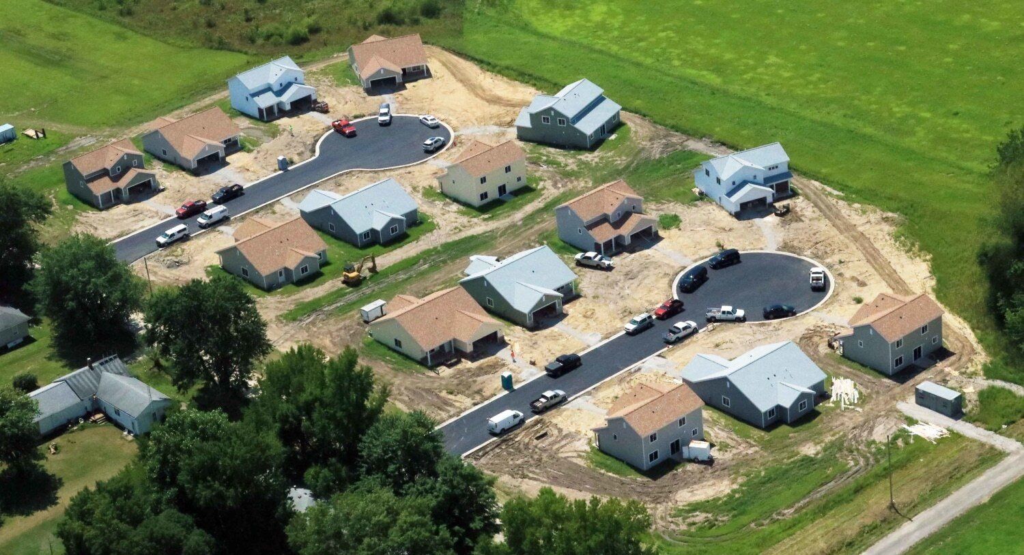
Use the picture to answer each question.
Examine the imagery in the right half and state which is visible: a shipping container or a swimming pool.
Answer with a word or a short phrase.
shipping container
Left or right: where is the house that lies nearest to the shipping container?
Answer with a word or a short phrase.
right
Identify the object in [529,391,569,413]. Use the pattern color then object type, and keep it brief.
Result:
gray truck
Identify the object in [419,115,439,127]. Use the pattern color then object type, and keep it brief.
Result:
white vehicle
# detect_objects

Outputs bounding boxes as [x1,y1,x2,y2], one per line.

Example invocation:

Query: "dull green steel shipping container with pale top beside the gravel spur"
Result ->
[916,381,962,416]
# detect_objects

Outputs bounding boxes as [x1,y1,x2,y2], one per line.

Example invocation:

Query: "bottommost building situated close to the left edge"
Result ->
[33,354,174,435]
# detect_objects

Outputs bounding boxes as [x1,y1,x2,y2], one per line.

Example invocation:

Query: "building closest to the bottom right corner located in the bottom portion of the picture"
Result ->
[835,293,944,375]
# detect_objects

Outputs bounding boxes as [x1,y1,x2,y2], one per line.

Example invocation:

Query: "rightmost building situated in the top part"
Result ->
[693,142,795,216]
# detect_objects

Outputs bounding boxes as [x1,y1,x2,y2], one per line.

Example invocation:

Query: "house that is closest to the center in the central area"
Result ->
[458,245,577,326]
